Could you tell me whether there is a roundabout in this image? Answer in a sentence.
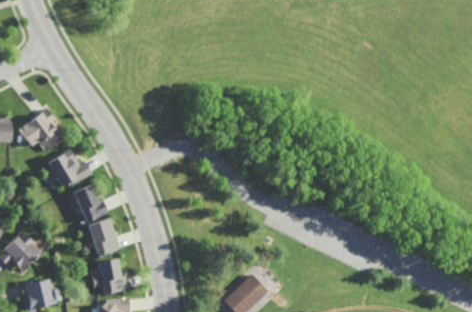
No, there's no roundabout here.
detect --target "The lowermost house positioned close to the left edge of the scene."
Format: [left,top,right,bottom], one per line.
[16,277,56,312]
